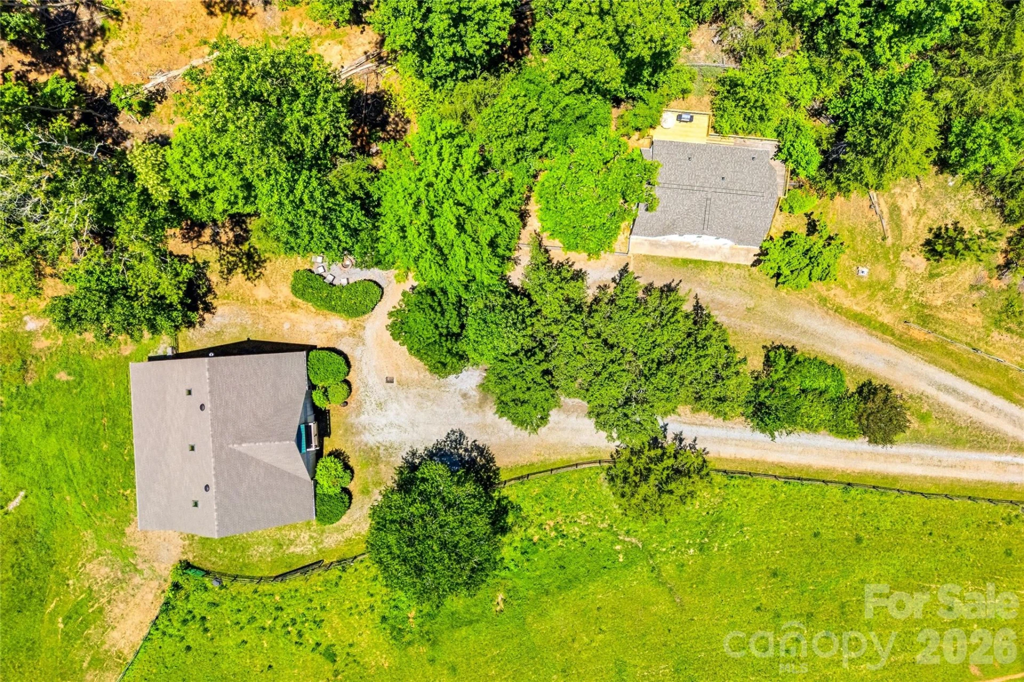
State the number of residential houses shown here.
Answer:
two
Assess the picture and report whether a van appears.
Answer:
No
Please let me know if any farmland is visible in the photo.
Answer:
Yes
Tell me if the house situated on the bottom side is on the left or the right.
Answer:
left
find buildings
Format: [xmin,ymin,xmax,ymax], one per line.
[631,109,790,248]
[129,350,330,538]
